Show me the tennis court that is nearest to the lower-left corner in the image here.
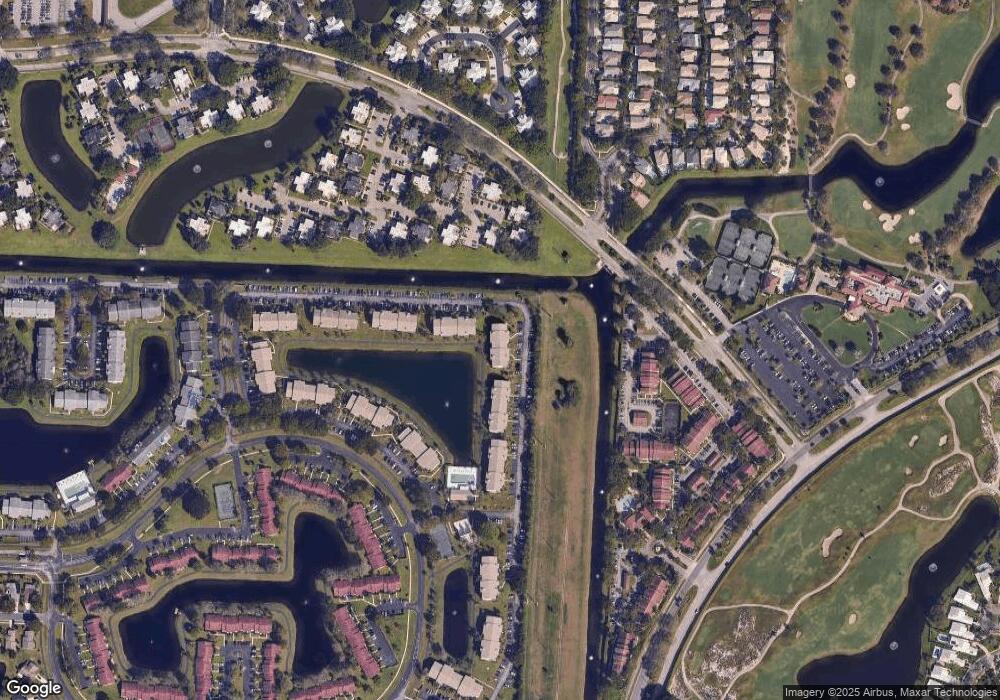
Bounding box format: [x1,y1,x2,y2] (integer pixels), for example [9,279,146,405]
[215,483,235,519]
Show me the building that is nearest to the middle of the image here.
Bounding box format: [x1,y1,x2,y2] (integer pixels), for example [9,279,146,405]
[489,324,510,367]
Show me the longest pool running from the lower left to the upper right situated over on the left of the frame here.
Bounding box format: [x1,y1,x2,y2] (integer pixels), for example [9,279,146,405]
[108,163,137,206]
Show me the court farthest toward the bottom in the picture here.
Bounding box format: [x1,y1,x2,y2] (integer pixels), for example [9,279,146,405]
[431,523,454,557]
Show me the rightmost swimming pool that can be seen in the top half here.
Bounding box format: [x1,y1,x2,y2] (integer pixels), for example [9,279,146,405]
[771,261,796,294]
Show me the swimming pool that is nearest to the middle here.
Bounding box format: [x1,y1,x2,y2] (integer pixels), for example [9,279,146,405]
[447,467,477,489]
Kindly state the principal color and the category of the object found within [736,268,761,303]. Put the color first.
gray tennis court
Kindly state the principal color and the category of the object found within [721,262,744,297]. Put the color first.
gray tennis court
